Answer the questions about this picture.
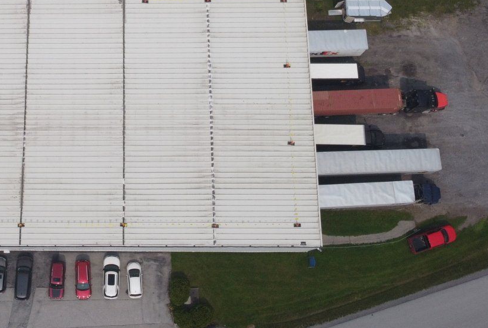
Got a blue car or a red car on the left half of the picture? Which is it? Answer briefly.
red car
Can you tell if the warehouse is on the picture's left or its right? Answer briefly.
left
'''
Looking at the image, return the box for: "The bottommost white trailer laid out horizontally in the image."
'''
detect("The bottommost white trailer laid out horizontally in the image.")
[319,180,416,210]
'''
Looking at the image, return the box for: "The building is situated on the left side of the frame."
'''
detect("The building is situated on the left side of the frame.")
[0,0,327,255]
